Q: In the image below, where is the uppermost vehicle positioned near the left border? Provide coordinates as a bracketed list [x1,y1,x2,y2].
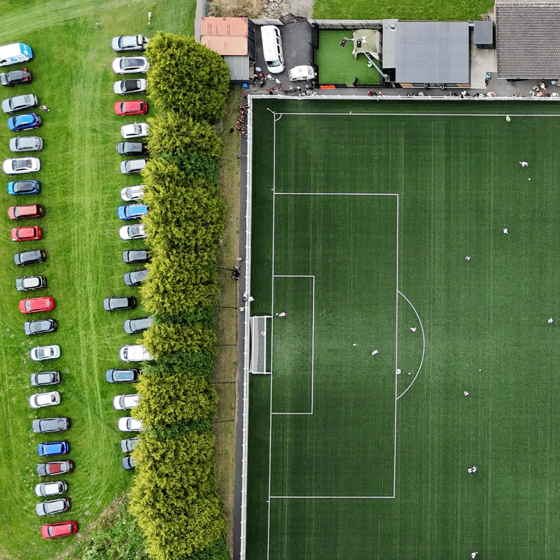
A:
[0,43,37,65]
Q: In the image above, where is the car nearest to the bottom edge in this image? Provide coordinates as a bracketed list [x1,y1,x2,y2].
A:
[43,521,79,539]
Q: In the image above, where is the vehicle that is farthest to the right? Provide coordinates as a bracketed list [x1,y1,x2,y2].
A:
[288,66,315,83]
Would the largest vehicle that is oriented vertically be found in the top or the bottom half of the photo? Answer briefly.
top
